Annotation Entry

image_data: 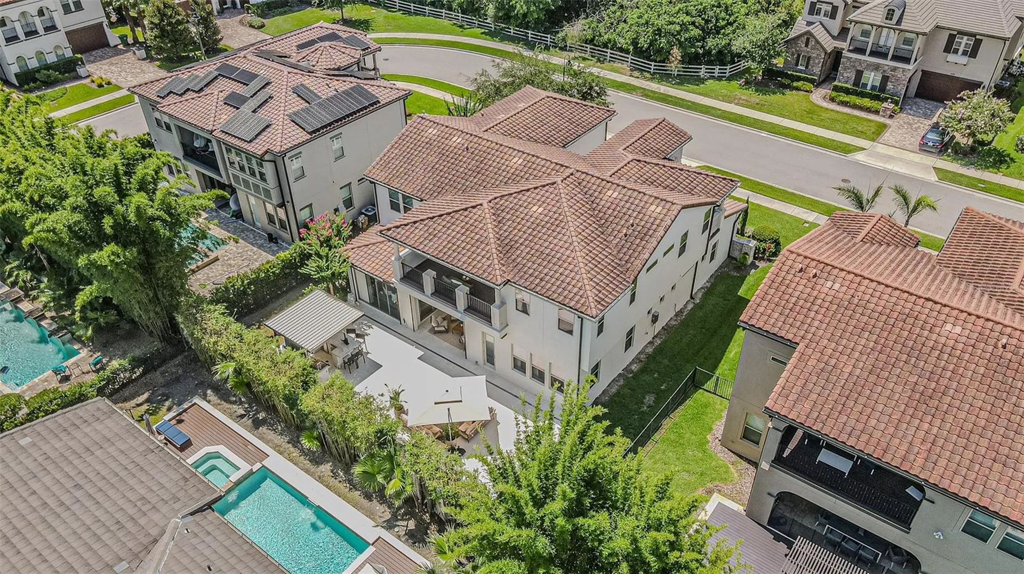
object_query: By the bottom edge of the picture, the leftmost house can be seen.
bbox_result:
[0,399,293,574]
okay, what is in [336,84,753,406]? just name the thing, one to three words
house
